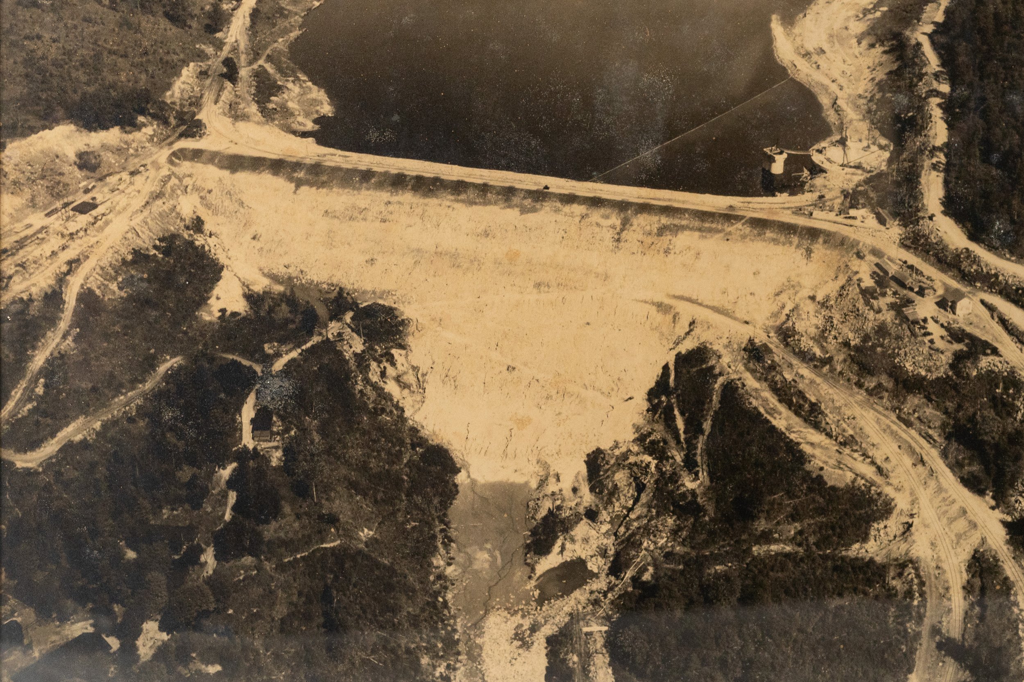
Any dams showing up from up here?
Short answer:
Yes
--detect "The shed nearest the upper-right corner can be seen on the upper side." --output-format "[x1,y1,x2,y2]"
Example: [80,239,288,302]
[874,199,902,227]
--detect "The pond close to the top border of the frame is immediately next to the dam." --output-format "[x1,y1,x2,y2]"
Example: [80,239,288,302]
[293,0,830,200]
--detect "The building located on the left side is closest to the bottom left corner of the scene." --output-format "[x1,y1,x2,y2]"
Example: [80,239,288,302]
[250,410,274,443]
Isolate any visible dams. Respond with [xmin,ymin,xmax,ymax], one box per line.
[170,139,885,495]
